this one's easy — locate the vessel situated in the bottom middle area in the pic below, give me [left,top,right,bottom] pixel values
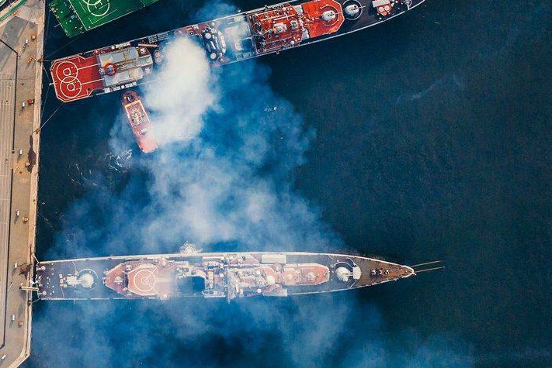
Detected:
[22,249,445,307]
